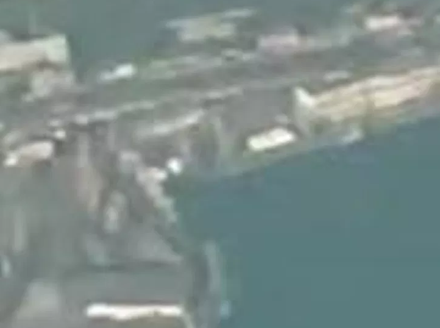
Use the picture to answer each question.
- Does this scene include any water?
Yes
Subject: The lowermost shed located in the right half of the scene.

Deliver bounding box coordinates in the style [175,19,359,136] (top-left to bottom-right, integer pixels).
[246,119,295,151]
